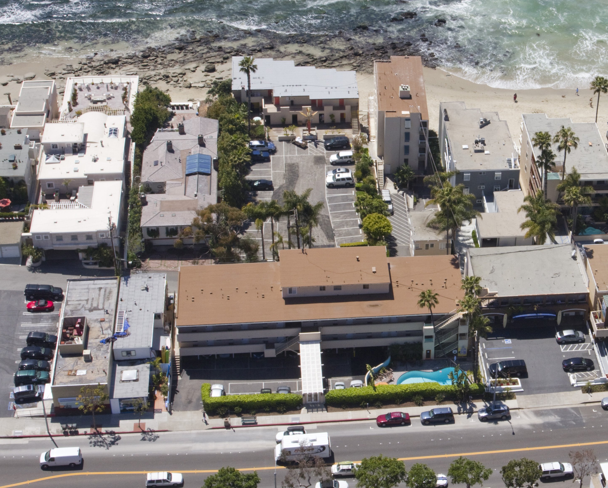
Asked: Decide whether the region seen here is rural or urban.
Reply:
urban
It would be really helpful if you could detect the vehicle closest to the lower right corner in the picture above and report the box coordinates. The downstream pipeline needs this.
[538,460,575,480]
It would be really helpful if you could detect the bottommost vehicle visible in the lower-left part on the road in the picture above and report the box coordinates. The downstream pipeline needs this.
[146,470,182,487]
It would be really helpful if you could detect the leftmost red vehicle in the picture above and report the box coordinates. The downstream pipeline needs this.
[23,299,56,311]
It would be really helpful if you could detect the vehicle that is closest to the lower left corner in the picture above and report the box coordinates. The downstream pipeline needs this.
[39,446,83,468]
